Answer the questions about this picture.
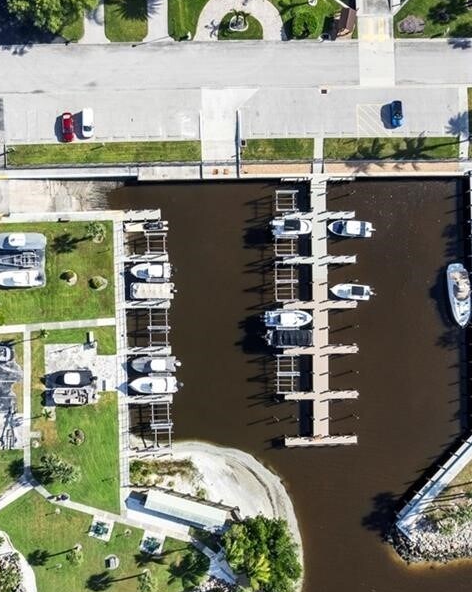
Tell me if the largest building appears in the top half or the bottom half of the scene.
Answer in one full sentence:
The bottom half of the photo is where the largest building is.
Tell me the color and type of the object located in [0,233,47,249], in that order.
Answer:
white boat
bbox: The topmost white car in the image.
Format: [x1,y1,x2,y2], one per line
[80,107,95,137]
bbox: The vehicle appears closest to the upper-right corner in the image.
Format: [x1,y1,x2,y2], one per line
[388,100,404,129]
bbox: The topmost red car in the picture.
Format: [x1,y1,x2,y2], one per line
[60,113,75,142]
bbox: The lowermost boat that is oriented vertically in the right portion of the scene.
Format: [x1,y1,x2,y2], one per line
[448,258,472,328]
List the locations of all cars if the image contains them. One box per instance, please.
[80,107,95,137]
[60,113,75,142]
[388,100,404,129]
